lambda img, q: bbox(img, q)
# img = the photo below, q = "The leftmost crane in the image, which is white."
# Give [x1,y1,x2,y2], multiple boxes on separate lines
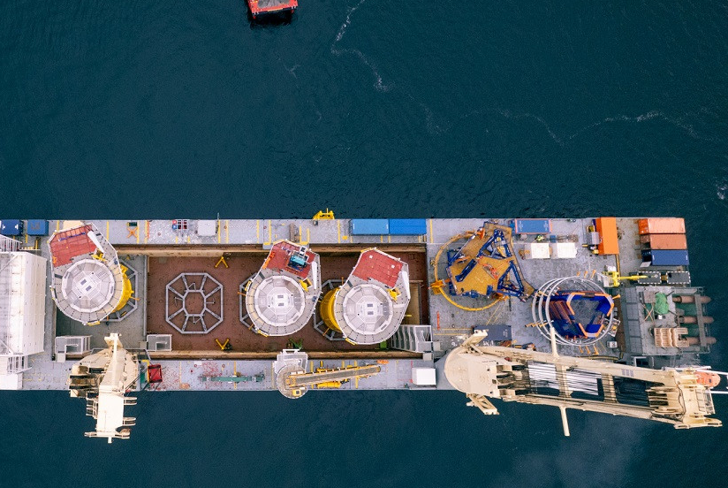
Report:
[67,332,145,443]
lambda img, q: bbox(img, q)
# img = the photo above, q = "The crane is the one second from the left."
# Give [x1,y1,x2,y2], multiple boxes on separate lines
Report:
[273,349,380,400]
